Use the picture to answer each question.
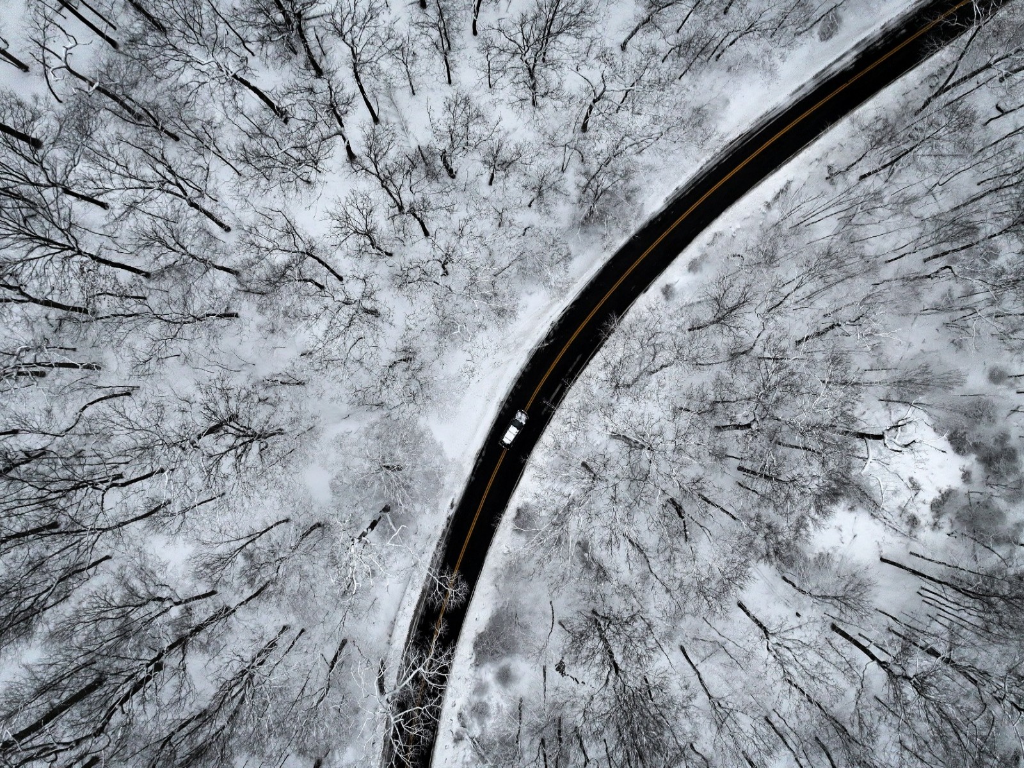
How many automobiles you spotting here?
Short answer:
one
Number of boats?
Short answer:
0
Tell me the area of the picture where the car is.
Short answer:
center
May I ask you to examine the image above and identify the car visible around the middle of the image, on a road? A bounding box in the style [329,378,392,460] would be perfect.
[498,408,529,449]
